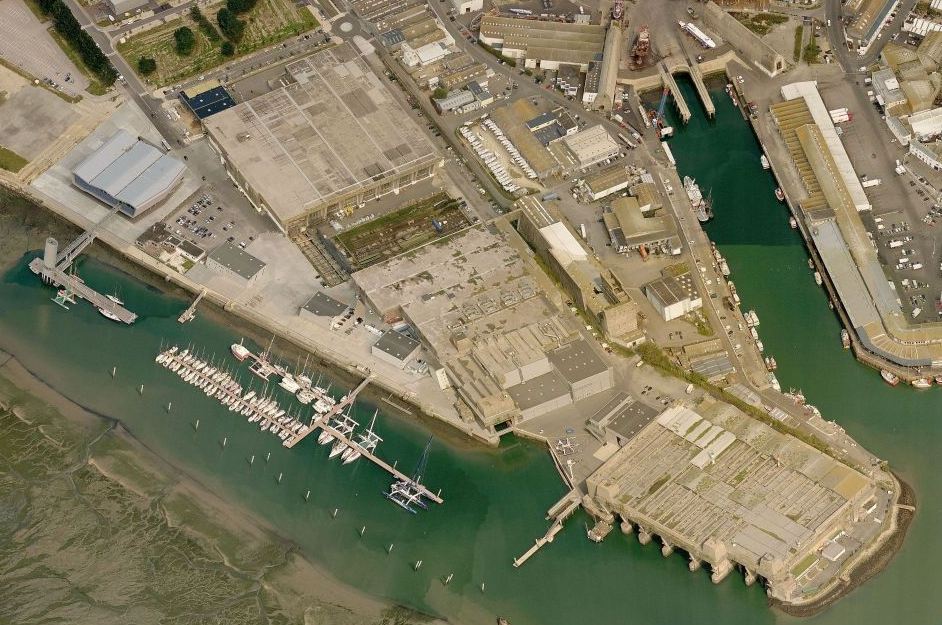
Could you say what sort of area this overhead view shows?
port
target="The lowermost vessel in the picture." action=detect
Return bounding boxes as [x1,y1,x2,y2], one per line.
[587,523,614,542]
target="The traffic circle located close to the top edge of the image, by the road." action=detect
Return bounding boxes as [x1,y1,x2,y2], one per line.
[324,15,363,41]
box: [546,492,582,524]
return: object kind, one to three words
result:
pier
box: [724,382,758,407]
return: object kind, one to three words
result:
shed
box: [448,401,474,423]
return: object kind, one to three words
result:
building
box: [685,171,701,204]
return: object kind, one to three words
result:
ship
